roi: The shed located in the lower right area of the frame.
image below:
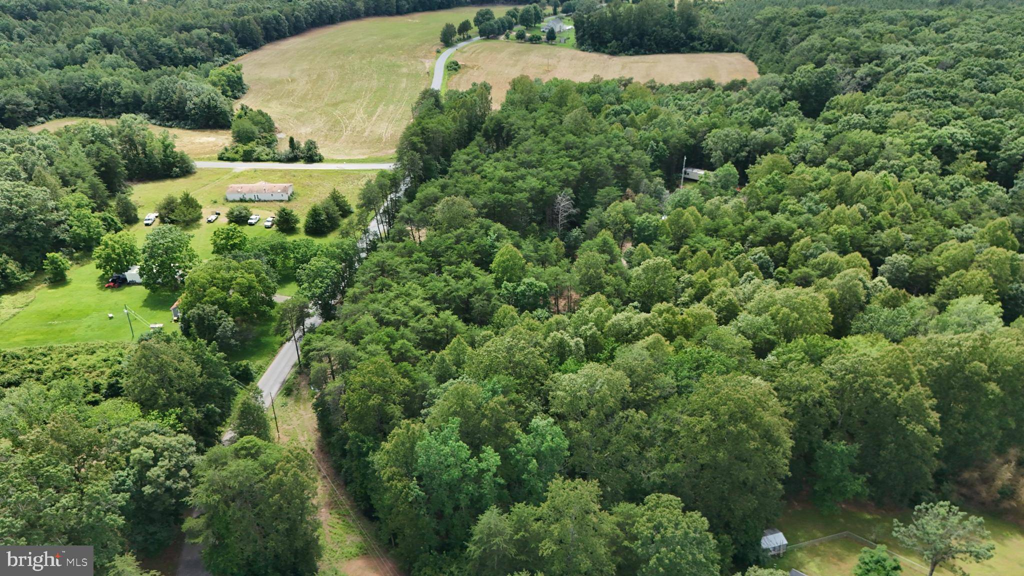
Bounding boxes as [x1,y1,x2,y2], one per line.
[757,526,792,554]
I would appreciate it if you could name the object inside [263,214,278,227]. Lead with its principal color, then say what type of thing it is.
white vehicle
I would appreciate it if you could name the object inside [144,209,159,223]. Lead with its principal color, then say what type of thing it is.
white vehicle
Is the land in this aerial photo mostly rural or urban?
rural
